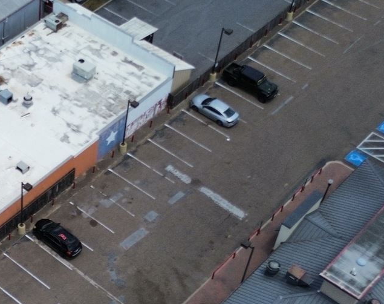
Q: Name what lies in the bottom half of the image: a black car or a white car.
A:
black car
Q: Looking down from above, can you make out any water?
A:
No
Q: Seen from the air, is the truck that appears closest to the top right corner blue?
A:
No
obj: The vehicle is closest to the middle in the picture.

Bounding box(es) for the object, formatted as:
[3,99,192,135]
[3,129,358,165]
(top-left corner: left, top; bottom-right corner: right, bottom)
[189,90,242,127]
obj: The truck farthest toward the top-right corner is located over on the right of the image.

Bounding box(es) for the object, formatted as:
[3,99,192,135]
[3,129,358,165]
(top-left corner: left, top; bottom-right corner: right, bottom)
[221,59,284,99]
